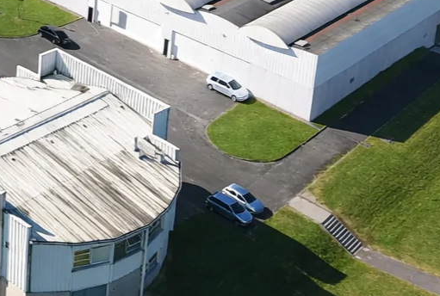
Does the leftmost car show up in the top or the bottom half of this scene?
top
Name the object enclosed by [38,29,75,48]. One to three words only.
car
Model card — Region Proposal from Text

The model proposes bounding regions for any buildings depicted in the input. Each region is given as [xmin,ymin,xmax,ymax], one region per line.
[52,0,440,119]
[0,45,184,296]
